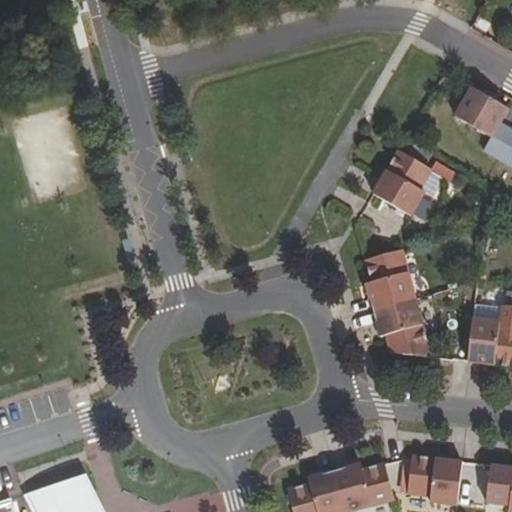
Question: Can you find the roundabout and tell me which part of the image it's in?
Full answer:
The roundabout sits in the bottom section of the image.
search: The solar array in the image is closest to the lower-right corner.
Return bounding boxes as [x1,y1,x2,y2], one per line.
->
[470,344,492,363]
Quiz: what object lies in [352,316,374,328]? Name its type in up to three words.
vehicle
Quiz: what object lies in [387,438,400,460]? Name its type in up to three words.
vehicle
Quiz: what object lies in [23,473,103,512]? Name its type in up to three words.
building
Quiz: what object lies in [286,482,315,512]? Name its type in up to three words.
house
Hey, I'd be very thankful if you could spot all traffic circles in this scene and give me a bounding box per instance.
[104,276,372,512]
